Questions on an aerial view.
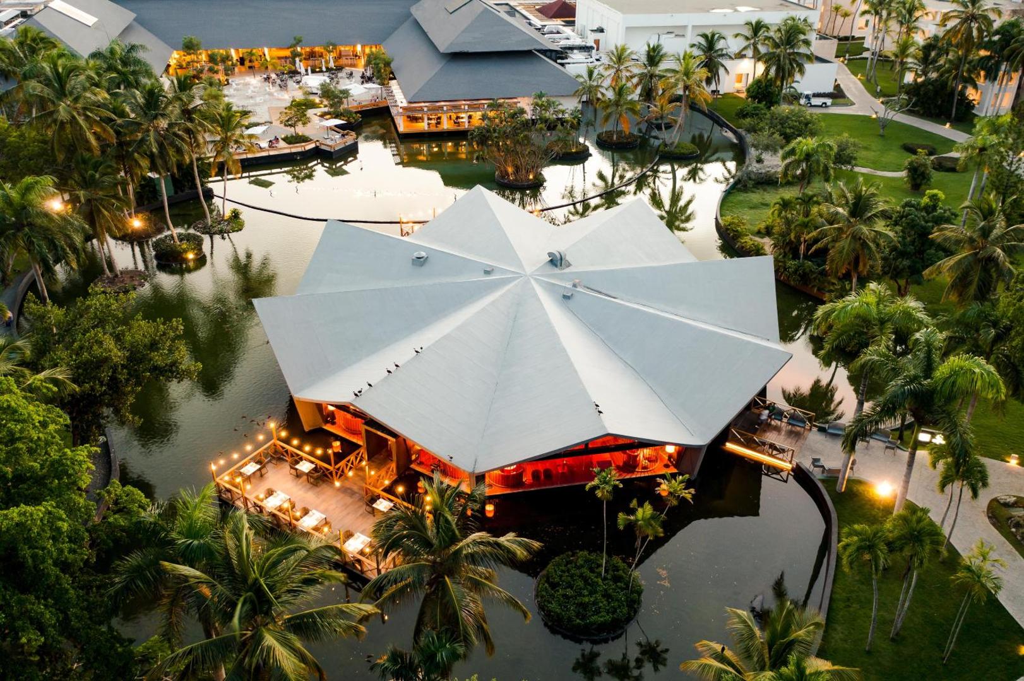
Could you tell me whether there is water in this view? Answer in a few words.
Yes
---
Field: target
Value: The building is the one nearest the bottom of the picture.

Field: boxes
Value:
[254,184,789,501]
